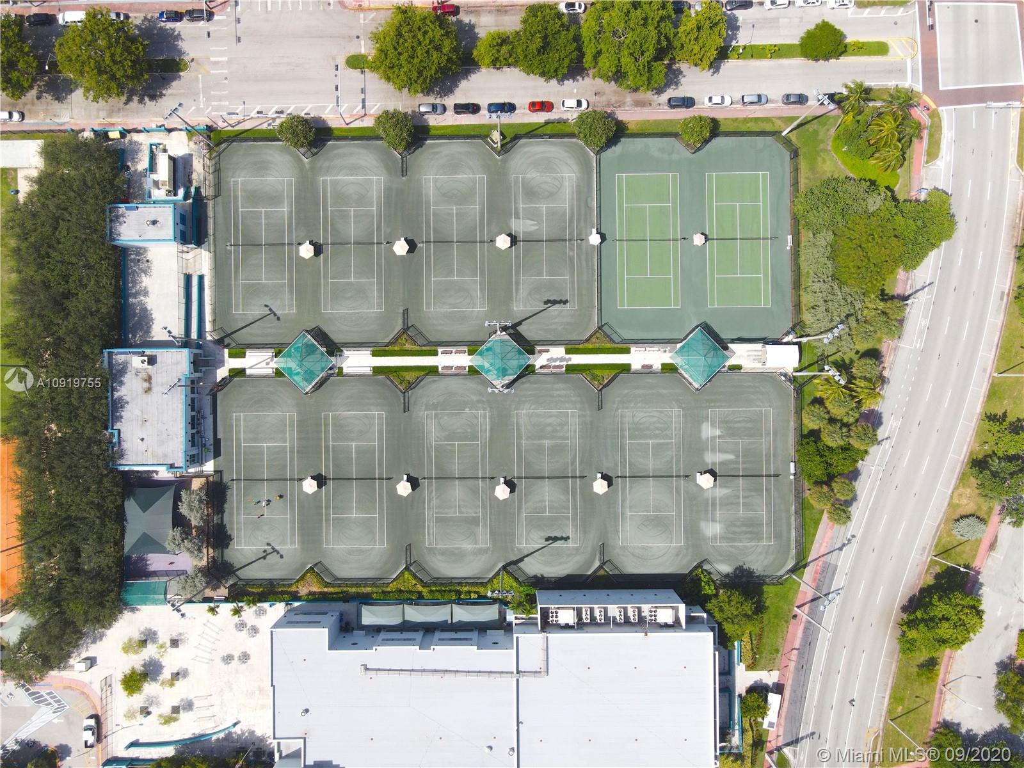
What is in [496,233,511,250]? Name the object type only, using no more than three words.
umbrella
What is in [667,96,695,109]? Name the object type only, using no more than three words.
vehicle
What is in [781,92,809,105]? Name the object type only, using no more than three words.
vehicle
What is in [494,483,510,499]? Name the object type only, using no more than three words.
umbrella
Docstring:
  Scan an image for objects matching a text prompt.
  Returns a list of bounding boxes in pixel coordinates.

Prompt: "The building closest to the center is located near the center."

[472,330,532,388]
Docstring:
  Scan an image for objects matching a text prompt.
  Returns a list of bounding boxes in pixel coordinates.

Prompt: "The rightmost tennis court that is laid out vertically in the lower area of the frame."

[695,374,794,573]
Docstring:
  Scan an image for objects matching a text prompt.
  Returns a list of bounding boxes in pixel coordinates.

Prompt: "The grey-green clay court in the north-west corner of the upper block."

[211,143,307,344]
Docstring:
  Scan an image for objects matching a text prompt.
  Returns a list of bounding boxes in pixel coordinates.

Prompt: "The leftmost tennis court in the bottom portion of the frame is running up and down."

[215,378,311,578]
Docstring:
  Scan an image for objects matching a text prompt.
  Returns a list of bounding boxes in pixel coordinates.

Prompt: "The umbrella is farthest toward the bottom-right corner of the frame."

[698,471,713,488]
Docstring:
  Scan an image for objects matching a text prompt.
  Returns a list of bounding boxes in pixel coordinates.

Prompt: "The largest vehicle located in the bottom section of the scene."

[82,715,99,749]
